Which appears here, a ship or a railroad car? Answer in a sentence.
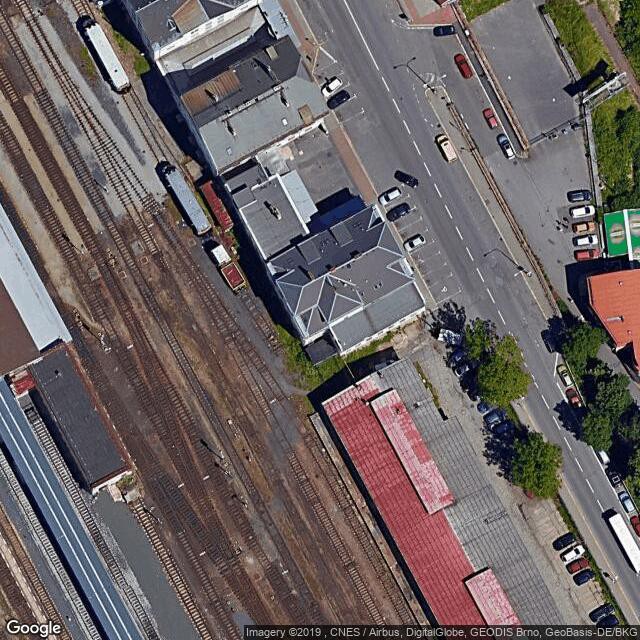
It is a railroad car that can be seen here.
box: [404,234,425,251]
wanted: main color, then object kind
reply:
white car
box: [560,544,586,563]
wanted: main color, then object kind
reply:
white car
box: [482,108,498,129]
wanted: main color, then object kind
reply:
red car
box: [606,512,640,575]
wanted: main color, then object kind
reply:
white bus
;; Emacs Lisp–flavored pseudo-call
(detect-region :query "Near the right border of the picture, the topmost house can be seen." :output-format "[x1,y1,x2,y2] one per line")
[587,268,640,379]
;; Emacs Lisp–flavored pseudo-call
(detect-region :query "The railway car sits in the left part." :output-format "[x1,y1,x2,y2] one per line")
[198,182,235,234]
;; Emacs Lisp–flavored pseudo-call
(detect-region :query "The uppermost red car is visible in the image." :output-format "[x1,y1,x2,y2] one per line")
[456,54,471,78]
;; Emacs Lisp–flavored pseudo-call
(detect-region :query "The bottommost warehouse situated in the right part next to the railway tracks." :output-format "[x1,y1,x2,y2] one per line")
[322,358,577,640]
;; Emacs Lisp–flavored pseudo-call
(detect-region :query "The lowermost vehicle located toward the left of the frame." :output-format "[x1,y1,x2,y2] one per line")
[209,242,244,293]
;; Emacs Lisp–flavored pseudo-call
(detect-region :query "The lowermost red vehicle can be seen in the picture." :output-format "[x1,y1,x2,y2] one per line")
[568,557,589,574]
